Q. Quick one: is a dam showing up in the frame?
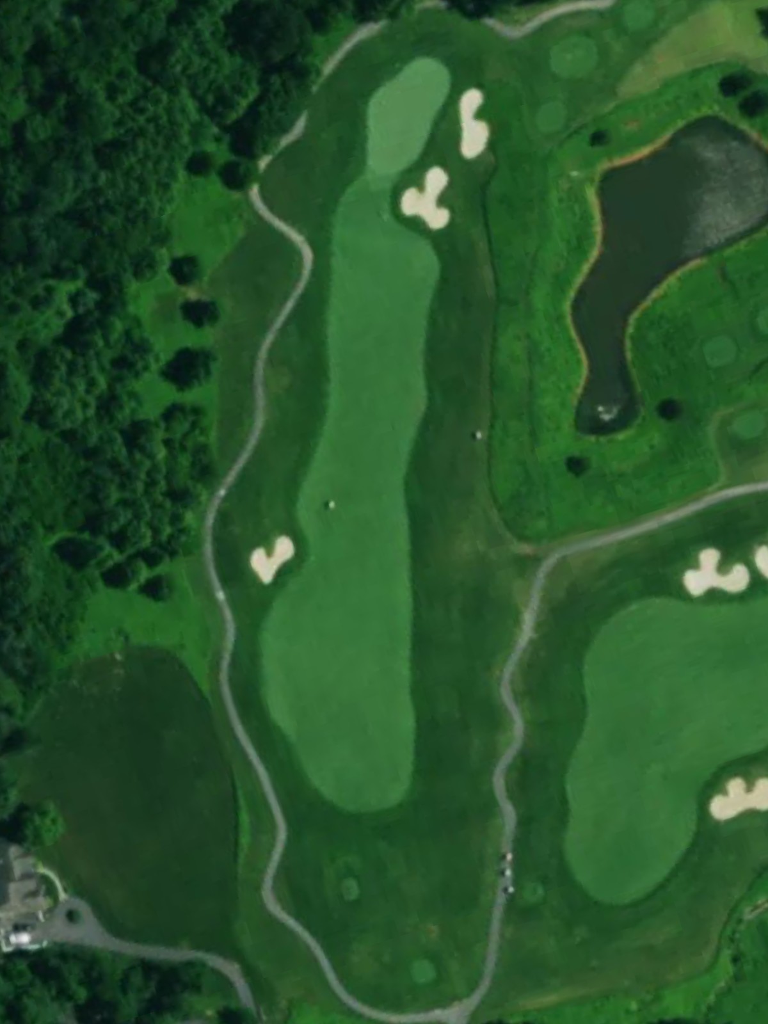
No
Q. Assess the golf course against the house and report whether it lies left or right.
on its right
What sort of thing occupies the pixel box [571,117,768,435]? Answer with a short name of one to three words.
pond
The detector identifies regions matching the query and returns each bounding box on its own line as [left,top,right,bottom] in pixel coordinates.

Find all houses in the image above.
[0,841,41,909]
